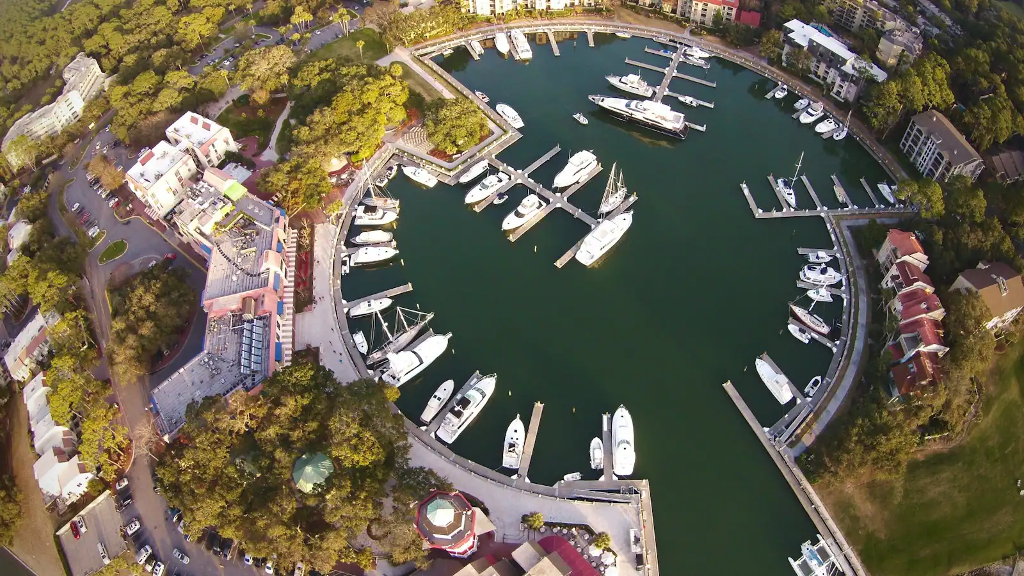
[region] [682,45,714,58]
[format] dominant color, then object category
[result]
white boat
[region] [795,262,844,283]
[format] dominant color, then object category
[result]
white boat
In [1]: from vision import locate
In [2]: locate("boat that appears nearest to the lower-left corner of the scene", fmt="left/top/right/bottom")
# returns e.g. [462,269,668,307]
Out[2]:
[353,330,367,353]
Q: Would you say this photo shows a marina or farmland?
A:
marina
